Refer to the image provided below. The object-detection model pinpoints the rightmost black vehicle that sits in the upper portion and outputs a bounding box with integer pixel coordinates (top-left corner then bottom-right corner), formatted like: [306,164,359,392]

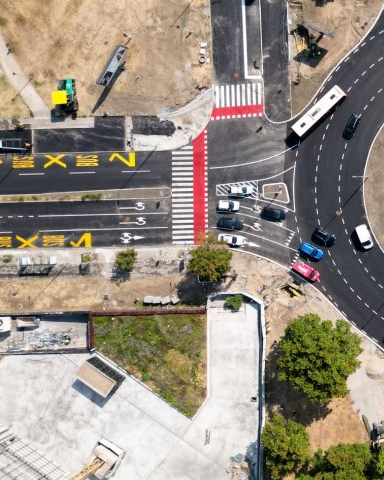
[345,114,360,139]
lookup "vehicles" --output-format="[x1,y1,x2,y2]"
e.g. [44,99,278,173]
[311,227,335,246]
[219,218,244,229]
[293,262,319,281]
[356,224,373,250]
[345,114,360,139]
[218,201,241,212]
[262,207,288,221]
[230,185,255,195]
[0,140,26,150]
[220,234,246,246]
[292,85,349,138]
[299,241,323,260]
